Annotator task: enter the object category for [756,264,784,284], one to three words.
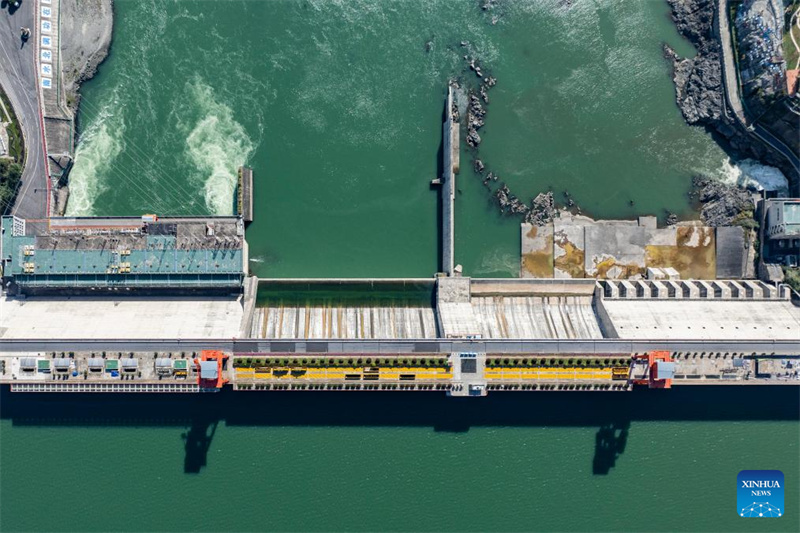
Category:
shed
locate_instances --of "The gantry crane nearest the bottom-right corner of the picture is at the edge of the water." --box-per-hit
[620,350,674,388]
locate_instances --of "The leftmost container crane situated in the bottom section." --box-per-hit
[191,350,237,388]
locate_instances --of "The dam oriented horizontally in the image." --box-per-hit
[0,275,800,396]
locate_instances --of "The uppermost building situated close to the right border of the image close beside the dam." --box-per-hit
[764,199,800,258]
